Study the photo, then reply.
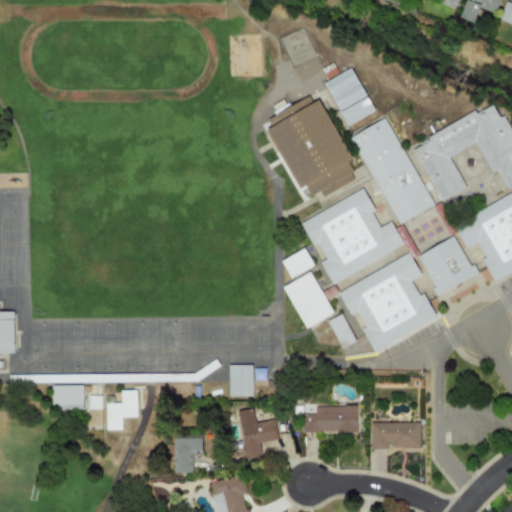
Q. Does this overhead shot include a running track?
Yes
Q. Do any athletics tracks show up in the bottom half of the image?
No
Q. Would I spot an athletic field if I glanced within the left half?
Yes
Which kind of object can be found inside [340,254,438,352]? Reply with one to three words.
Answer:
building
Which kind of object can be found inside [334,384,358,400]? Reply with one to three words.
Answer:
swimming pool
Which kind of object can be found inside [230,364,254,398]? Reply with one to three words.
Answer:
shed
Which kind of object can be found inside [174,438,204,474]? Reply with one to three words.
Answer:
house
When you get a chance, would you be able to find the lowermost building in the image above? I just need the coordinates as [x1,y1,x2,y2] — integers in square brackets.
[212,479,248,512]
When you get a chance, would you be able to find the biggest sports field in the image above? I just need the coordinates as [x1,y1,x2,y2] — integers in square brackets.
[30,108,272,316]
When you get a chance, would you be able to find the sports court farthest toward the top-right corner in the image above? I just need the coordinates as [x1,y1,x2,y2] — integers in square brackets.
[282,29,324,81]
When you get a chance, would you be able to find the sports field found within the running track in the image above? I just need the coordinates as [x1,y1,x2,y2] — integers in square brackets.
[36,24,205,87]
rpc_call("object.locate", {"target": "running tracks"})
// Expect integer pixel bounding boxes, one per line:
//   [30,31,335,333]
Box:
[2,1,228,106]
